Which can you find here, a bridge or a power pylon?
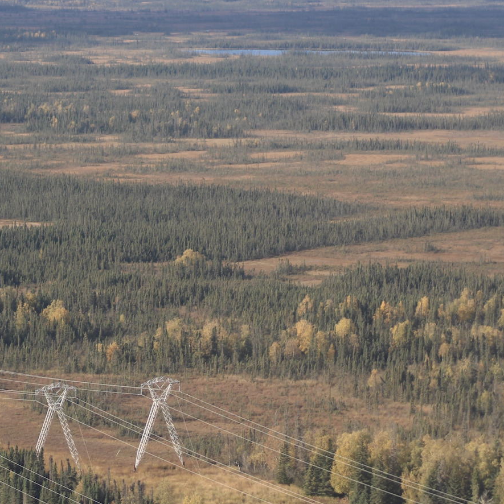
power pylon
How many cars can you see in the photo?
none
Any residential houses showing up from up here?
No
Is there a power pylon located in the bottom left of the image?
Yes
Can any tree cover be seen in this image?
Yes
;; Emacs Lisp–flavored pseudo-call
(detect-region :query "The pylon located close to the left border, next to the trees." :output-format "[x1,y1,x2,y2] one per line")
[24,380,93,473]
